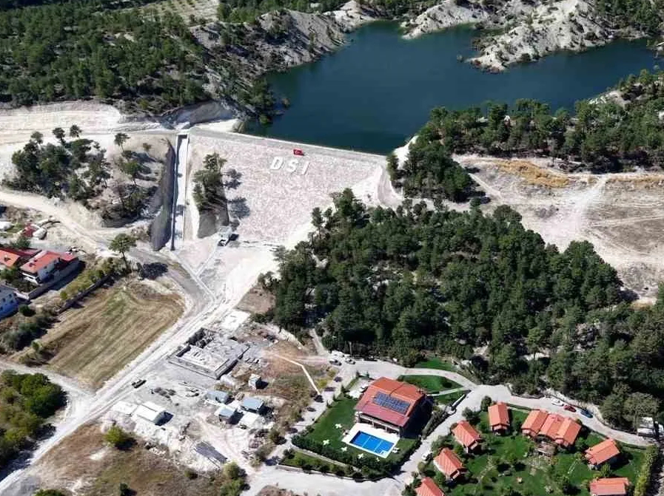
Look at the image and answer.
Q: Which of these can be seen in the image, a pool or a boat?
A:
pool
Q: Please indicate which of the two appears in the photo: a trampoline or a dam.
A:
dam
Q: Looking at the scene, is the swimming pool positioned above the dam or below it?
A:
below it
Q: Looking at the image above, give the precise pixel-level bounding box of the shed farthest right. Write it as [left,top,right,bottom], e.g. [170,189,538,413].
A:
[637,416,662,443]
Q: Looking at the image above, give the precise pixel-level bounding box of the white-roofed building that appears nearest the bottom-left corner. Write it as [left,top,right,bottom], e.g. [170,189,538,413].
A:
[134,405,169,430]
